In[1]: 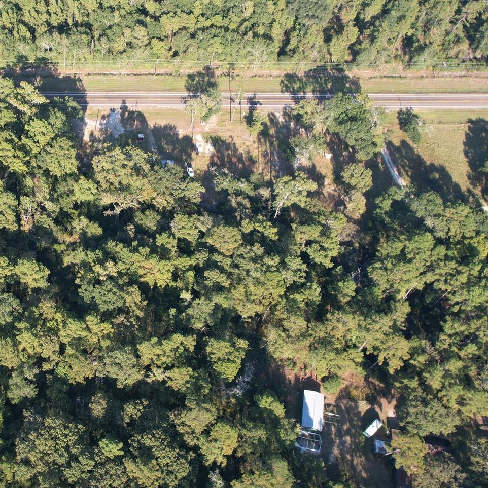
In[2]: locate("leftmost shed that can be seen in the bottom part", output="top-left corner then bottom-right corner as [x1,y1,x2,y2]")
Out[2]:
[298,391,323,434]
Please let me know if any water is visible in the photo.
No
